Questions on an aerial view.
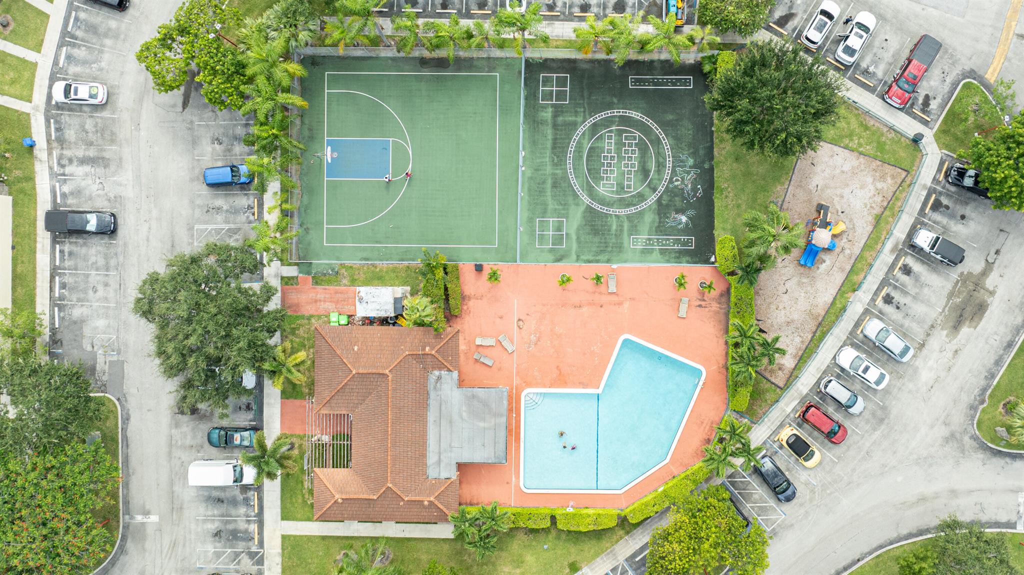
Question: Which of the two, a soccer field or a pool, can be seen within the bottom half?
pool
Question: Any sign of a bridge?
No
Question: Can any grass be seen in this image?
Yes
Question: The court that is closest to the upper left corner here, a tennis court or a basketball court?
basketball court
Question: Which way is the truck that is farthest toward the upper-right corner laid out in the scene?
diagonally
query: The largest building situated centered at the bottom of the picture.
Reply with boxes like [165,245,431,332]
[313,325,508,522]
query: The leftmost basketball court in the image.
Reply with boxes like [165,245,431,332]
[298,56,522,275]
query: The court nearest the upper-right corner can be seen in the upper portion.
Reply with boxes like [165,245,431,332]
[520,57,717,265]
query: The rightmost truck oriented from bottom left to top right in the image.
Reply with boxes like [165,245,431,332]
[882,33,944,110]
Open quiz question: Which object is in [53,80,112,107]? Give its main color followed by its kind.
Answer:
white car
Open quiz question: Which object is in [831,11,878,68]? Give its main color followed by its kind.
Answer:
white car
